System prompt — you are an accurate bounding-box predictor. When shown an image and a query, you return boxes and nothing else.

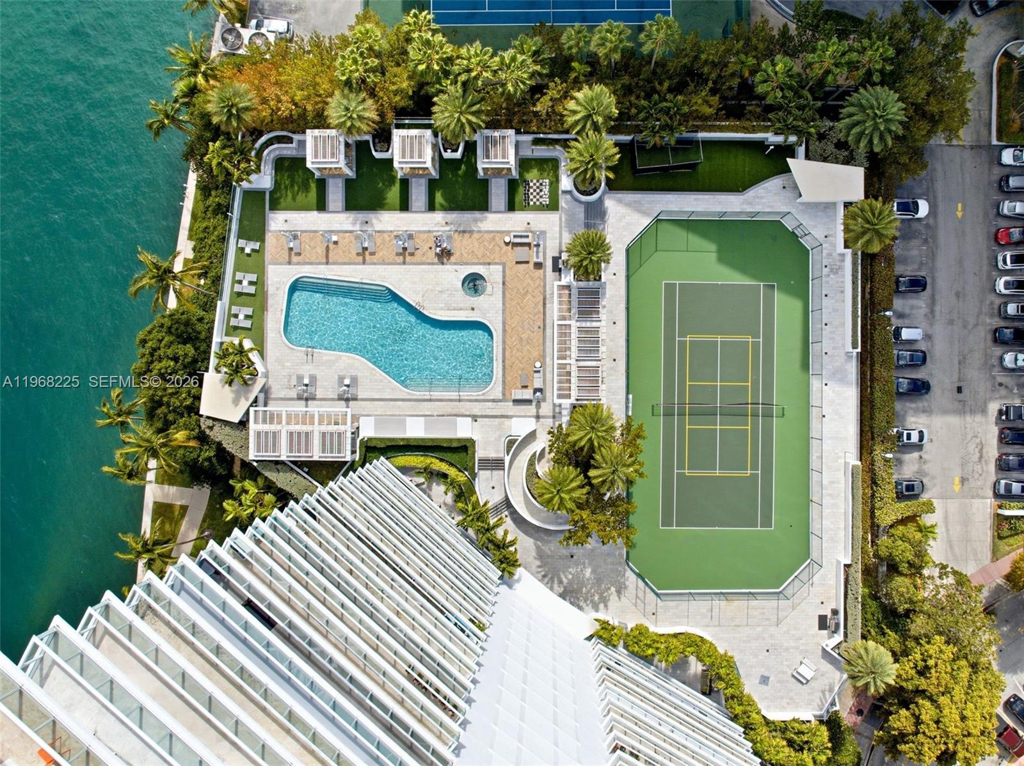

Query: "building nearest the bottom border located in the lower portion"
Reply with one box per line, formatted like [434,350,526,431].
[0,457,762,766]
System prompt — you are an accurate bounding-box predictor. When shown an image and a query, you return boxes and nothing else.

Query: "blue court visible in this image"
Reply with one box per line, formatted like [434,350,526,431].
[364,0,748,60]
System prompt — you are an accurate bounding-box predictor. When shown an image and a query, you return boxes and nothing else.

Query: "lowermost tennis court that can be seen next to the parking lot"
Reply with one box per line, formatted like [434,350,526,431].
[628,220,810,589]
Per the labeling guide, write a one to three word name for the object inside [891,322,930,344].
car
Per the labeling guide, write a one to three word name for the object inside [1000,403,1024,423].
vehicle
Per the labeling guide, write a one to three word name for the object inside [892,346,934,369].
car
